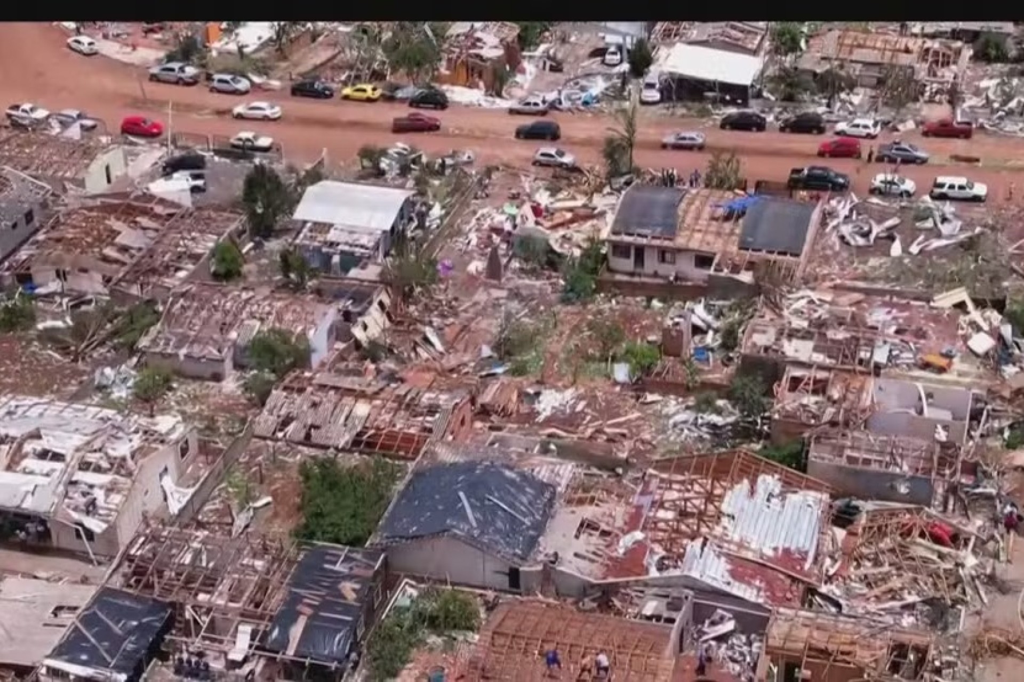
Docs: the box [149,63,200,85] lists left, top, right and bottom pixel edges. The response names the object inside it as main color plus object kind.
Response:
gray truck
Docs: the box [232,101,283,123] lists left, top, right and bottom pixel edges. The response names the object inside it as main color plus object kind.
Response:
white car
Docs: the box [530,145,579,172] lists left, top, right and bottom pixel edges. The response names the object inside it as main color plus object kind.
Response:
gray car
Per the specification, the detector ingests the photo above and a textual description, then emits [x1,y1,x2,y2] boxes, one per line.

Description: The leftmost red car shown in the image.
[118,115,165,140]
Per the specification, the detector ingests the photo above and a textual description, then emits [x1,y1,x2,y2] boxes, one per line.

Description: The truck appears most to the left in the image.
[2,104,53,129]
